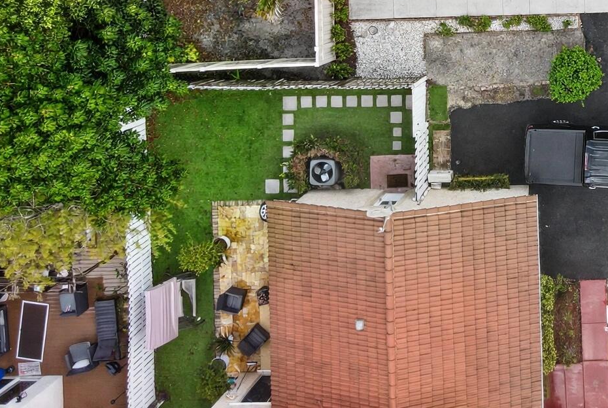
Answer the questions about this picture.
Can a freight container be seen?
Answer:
No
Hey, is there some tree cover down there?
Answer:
Yes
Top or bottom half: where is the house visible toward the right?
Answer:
bottom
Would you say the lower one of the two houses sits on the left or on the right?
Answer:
left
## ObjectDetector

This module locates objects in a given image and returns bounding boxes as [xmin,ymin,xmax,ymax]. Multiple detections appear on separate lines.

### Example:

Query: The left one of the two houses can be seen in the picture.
[0,377,62,408]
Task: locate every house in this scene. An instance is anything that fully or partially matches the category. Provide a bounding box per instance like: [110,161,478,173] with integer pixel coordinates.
[200,185,539,408]
[0,377,62,408]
